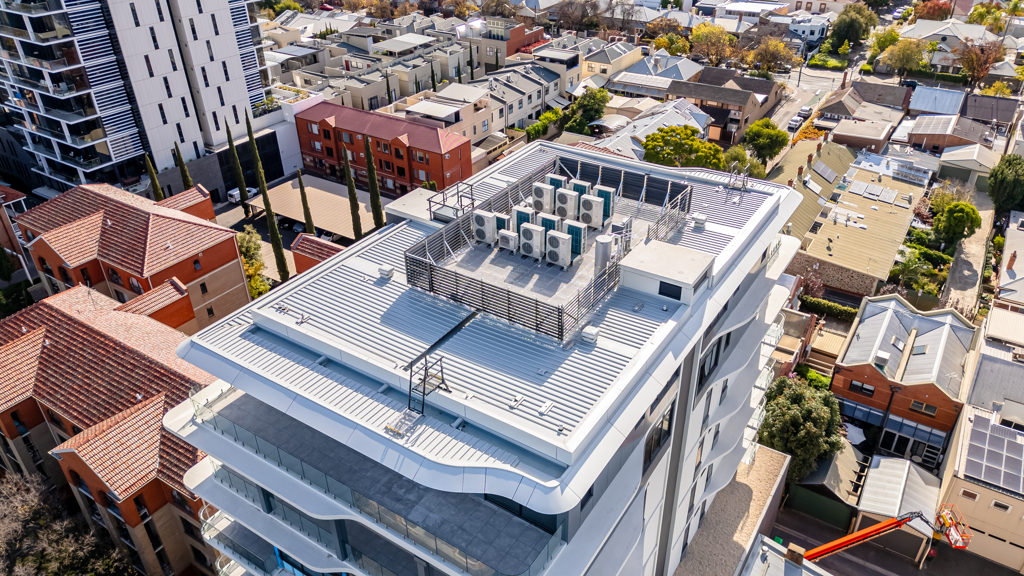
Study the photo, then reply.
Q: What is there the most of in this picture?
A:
buildings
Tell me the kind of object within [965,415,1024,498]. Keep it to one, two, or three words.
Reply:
solar panel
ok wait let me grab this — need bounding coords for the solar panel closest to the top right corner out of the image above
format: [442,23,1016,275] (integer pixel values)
[910,116,955,137]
